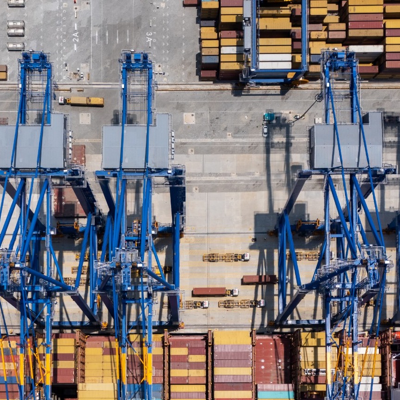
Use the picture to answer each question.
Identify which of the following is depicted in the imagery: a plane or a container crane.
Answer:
container crane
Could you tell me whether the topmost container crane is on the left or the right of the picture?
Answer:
right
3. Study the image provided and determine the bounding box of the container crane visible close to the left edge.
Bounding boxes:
[0,41,107,400]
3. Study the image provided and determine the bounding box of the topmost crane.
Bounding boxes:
[241,0,319,94]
